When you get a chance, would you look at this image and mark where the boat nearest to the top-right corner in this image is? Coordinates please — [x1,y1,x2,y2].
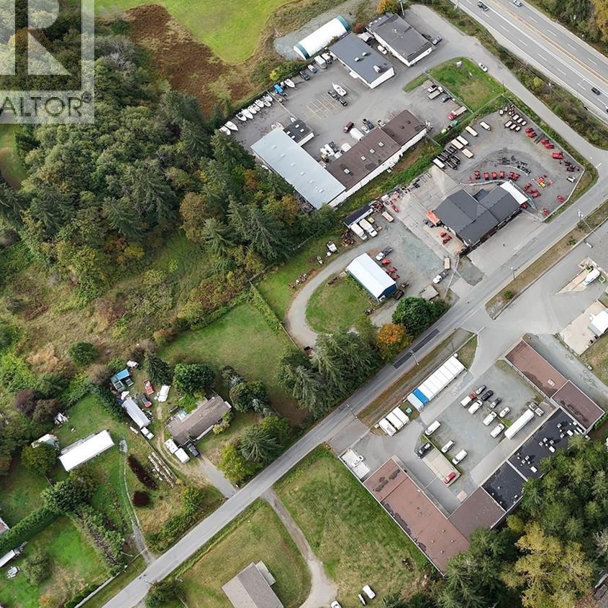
[332,80,347,93]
